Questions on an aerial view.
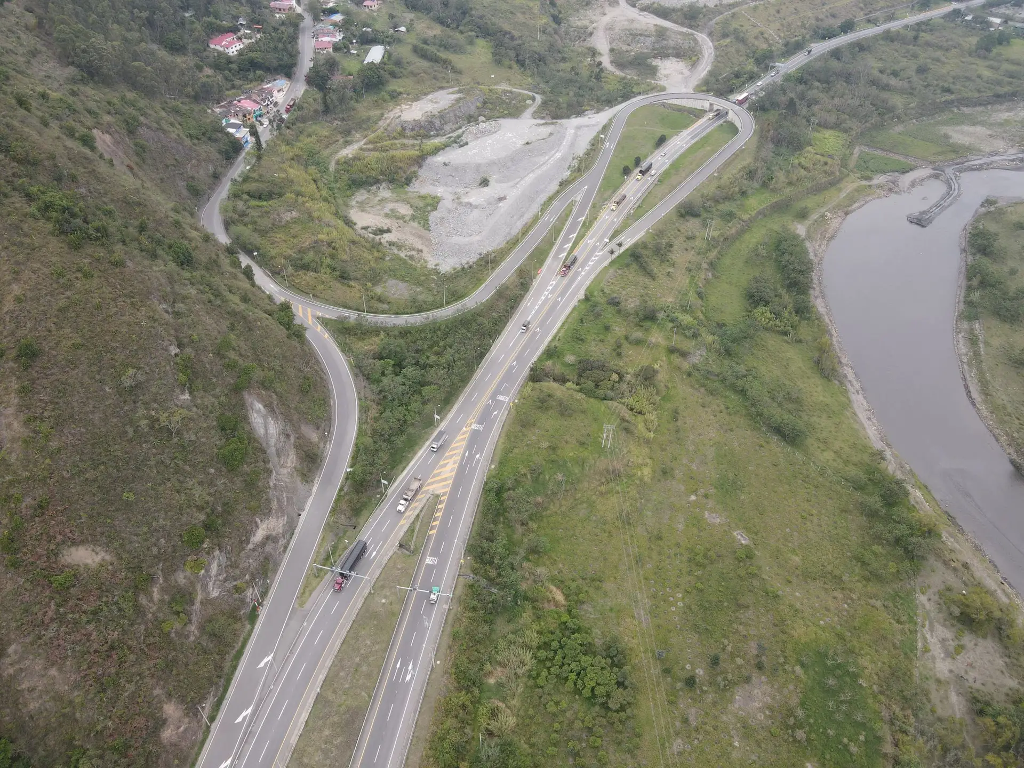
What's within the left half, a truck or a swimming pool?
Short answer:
truck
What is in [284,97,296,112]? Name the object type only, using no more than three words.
vehicle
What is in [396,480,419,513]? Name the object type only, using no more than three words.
truck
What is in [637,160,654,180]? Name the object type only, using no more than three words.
vehicle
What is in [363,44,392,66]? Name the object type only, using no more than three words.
shed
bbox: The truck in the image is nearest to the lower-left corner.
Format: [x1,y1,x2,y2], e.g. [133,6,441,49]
[333,540,366,592]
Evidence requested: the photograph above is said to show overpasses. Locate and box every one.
[638,99,741,130]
